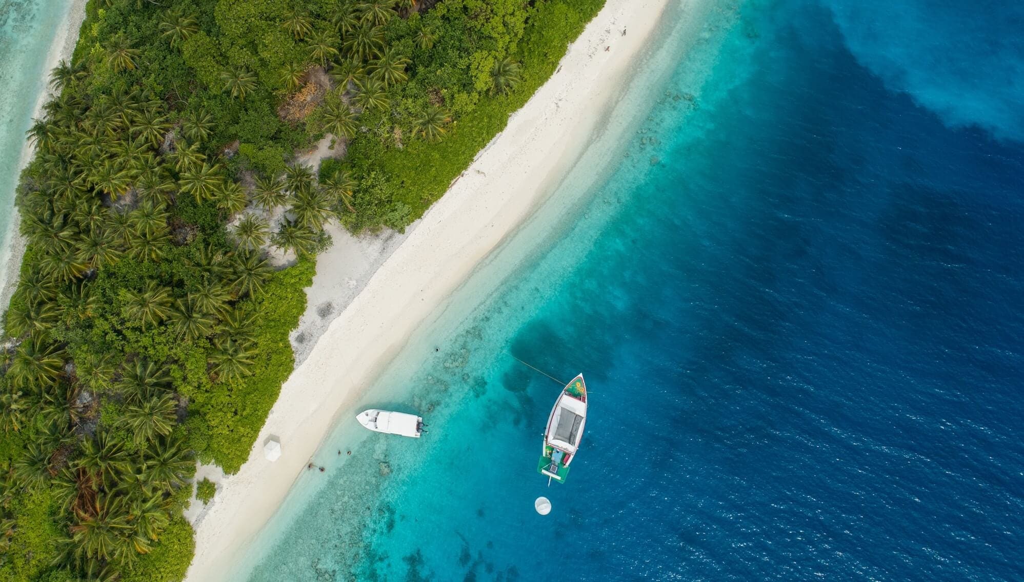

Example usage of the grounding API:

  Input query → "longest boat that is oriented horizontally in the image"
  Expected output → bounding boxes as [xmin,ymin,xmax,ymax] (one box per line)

[356,409,430,438]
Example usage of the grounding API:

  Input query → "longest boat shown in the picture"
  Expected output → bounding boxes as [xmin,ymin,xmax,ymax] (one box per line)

[537,373,588,487]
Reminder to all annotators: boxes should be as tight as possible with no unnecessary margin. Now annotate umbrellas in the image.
[264,441,281,461]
